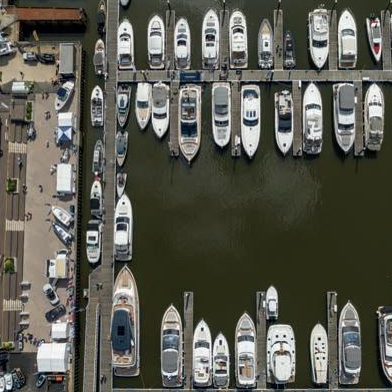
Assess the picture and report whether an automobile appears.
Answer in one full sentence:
Yes, I can see an automobile in this picture.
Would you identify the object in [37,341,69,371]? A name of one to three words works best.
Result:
tent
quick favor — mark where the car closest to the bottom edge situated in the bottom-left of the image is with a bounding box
[45,303,68,321]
